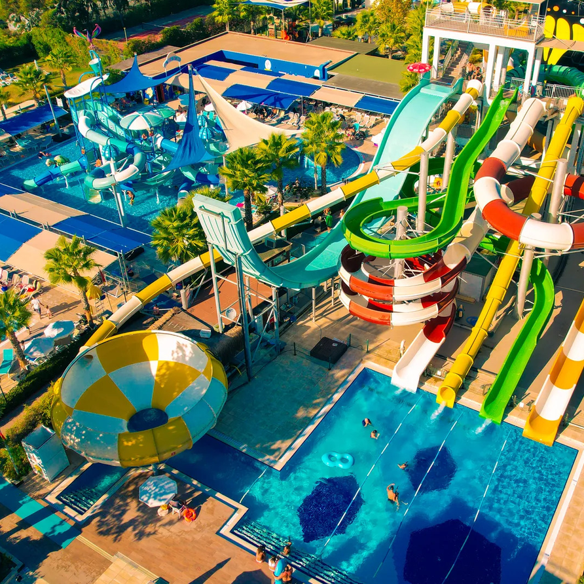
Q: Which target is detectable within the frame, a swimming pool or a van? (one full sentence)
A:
This aerial view contains a swimming pool.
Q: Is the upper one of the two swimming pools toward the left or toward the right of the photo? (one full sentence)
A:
The upper one of the two swimming pools sits on the left side.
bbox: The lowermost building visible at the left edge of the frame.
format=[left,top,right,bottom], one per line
[23,420,82,484]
